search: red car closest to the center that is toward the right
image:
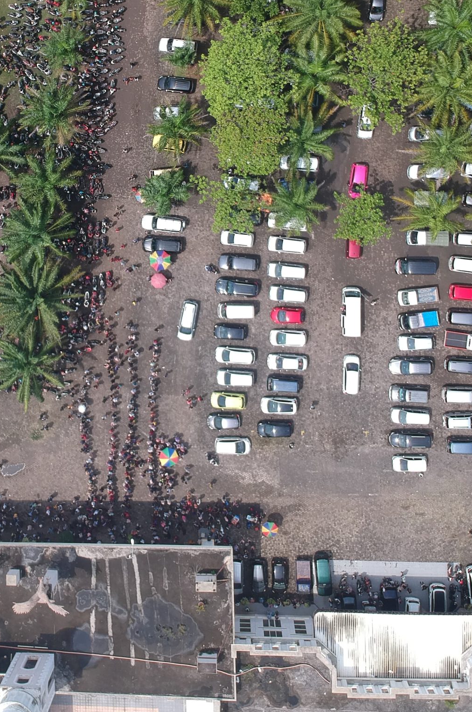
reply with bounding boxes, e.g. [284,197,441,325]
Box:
[269,306,305,324]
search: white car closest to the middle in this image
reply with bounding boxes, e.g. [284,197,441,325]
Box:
[217,345,255,364]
